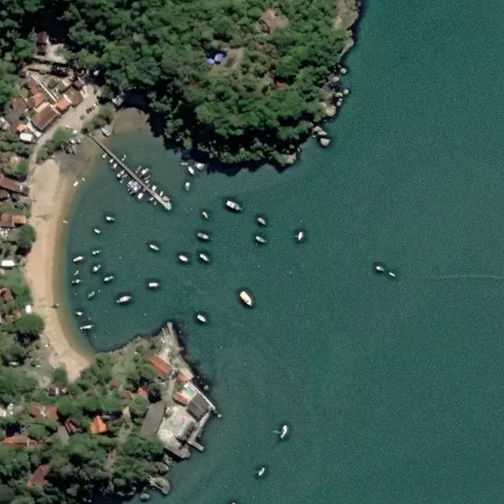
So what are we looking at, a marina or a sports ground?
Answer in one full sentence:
This image shows a marina.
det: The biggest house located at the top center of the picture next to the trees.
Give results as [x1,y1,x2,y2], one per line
[259,9,283,33]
